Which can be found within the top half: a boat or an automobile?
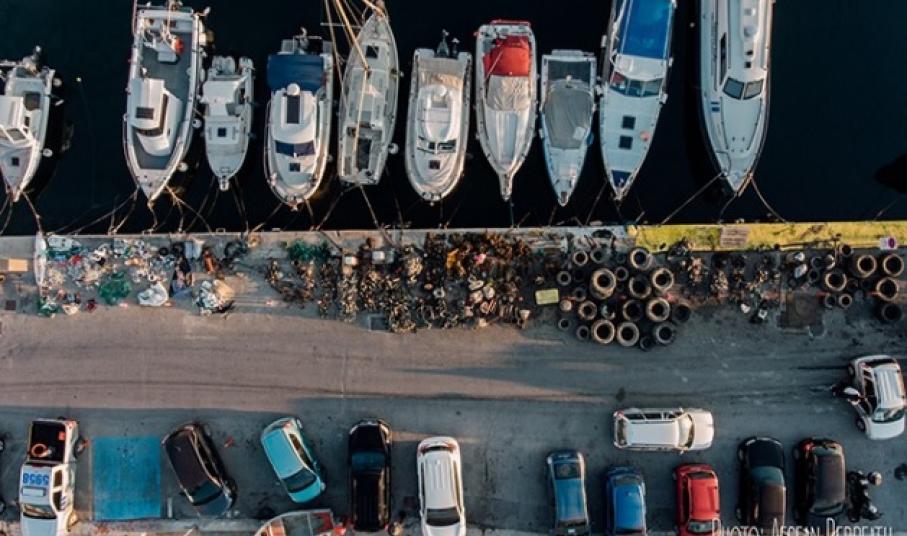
boat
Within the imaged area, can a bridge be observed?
No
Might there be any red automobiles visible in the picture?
Yes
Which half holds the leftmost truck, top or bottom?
bottom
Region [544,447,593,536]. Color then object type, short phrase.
blue car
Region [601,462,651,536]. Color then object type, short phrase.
blue car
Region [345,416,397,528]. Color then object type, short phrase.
black car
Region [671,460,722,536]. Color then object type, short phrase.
red car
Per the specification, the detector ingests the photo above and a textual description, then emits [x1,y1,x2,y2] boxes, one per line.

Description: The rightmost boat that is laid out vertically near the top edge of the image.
[693,0,774,195]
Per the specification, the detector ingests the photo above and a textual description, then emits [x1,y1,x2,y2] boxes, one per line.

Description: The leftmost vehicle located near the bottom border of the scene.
[23,417,85,535]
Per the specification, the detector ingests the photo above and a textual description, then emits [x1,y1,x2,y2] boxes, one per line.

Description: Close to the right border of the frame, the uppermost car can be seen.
[841,352,907,440]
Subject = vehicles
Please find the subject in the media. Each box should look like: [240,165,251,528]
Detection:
[265,415,323,502]
[345,416,397,528]
[416,432,469,536]
[23,417,85,535]
[166,416,236,514]
[601,462,651,536]
[845,473,888,523]
[790,435,849,534]
[609,403,714,456]
[735,434,791,536]
[671,460,722,536]
[544,447,593,536]
[841,352,907,440]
